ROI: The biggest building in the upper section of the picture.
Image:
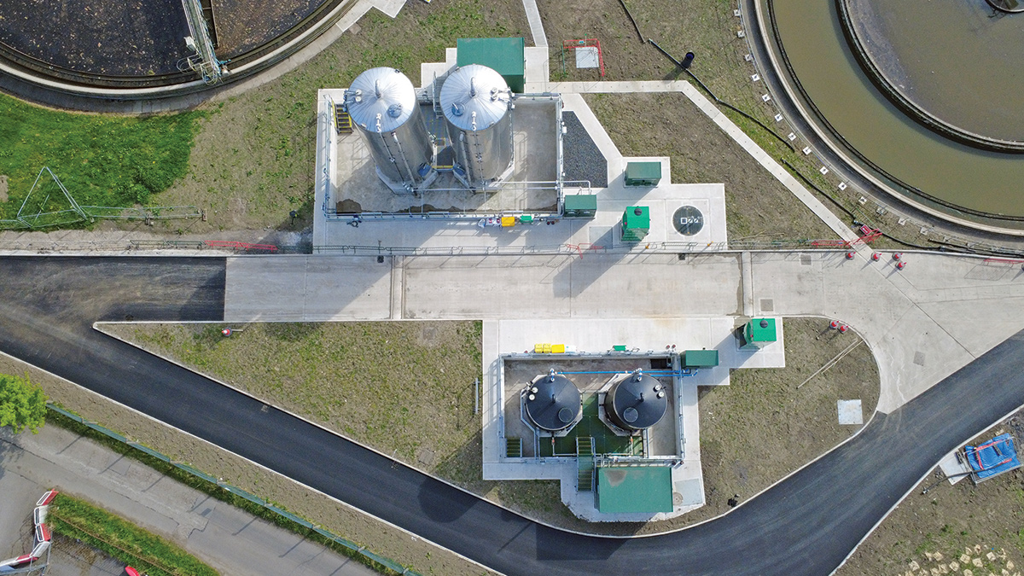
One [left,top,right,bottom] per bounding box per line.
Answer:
[457,36,526,91]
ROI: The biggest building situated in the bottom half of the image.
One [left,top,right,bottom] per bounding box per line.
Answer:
[595,467,673,514]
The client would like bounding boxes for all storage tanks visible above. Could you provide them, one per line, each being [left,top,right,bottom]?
[0,0,374,112]
[440,65,517,188]
[341,68,438,190]
[605,368,671,444]
[739,0,1024,250]
[523,367,583,446]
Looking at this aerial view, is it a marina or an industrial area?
industrial area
